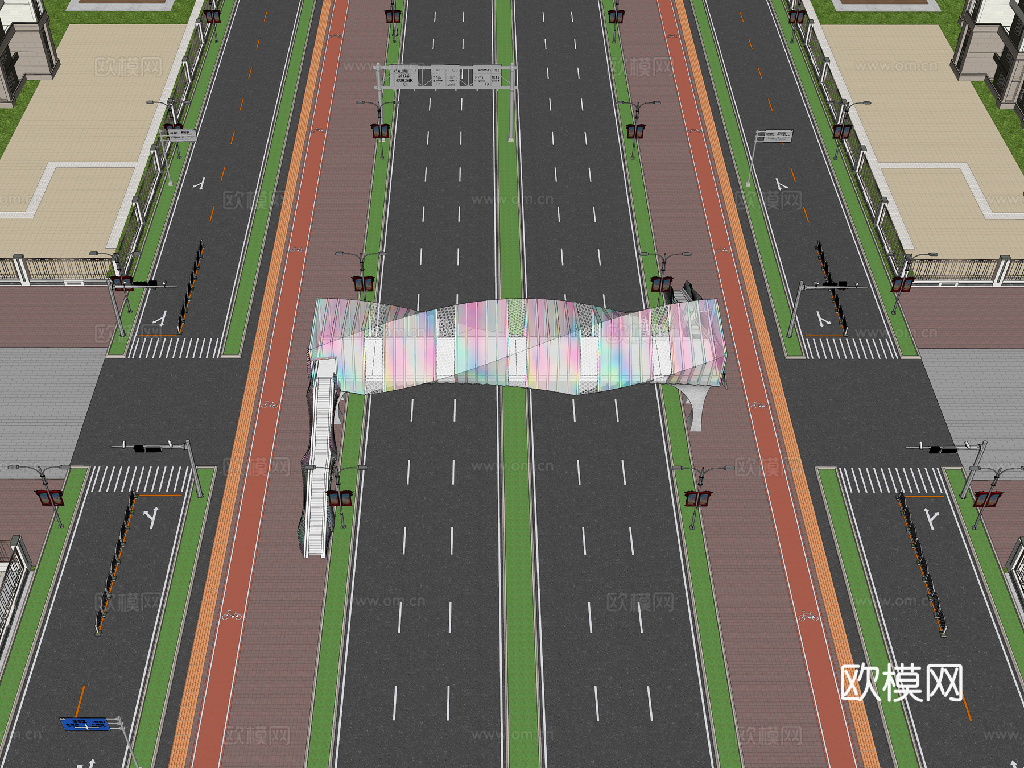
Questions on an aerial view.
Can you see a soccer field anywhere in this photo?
No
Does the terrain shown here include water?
No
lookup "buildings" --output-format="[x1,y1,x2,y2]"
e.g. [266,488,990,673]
[0,0,61,108]
[950,0,1024,129]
